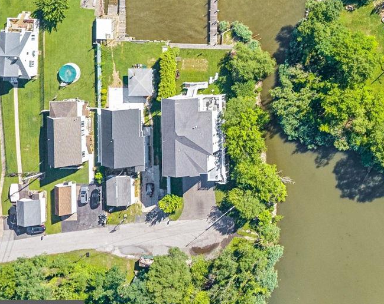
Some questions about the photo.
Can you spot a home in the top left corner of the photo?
Yes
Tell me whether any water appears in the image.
Yes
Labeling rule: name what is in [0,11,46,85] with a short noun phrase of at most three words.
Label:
house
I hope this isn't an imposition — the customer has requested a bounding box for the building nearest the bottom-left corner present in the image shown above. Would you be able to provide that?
[17,199,46,229]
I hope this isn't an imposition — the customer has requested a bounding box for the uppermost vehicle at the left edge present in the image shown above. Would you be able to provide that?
[11,183,24,201]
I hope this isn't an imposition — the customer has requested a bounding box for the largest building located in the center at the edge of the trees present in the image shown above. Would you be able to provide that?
[161,81,229,183]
